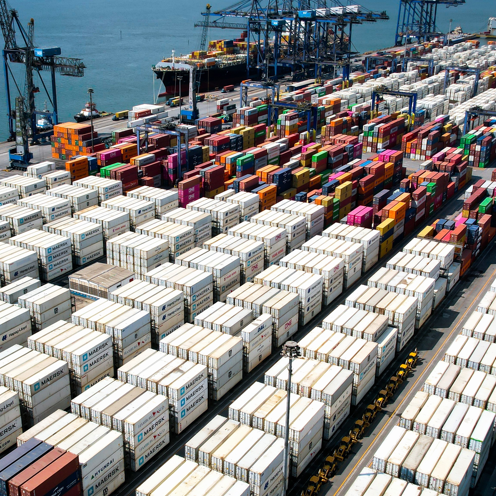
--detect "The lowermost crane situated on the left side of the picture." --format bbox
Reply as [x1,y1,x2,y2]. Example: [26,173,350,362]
[140,127,198,180]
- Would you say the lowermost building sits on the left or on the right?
left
